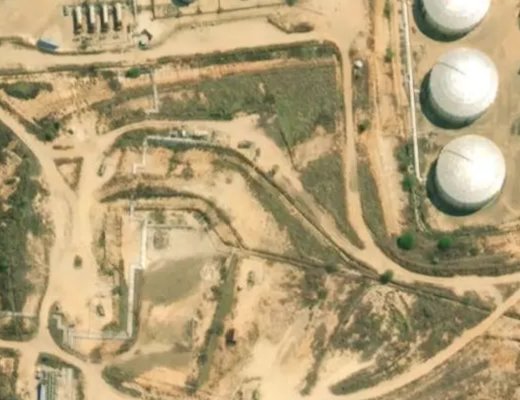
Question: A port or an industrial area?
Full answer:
This image shows an industrial area.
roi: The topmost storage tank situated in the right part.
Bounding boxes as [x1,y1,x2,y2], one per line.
[415,0,492,41]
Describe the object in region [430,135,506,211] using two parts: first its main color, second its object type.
white storage tank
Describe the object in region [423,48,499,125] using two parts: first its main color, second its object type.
white storage tank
